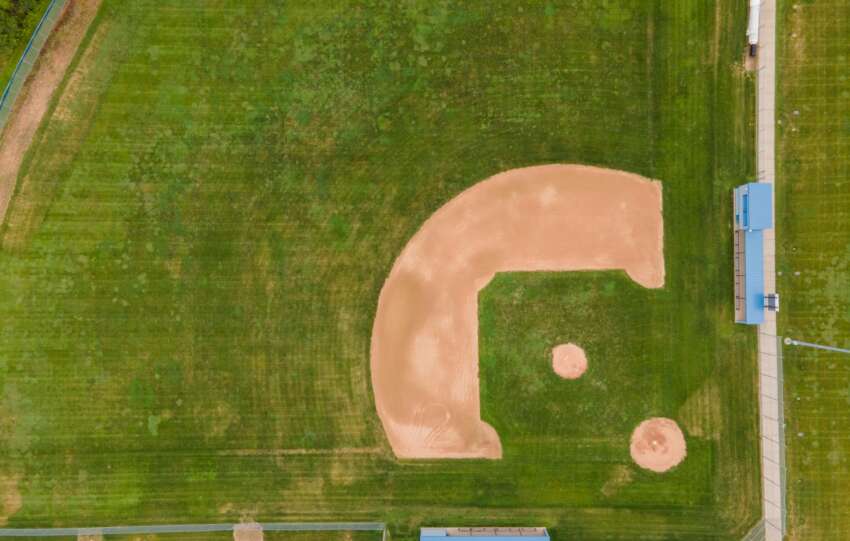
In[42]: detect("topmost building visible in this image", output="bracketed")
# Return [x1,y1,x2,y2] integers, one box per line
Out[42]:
[735,183,773,232]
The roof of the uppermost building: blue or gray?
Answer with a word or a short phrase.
blue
